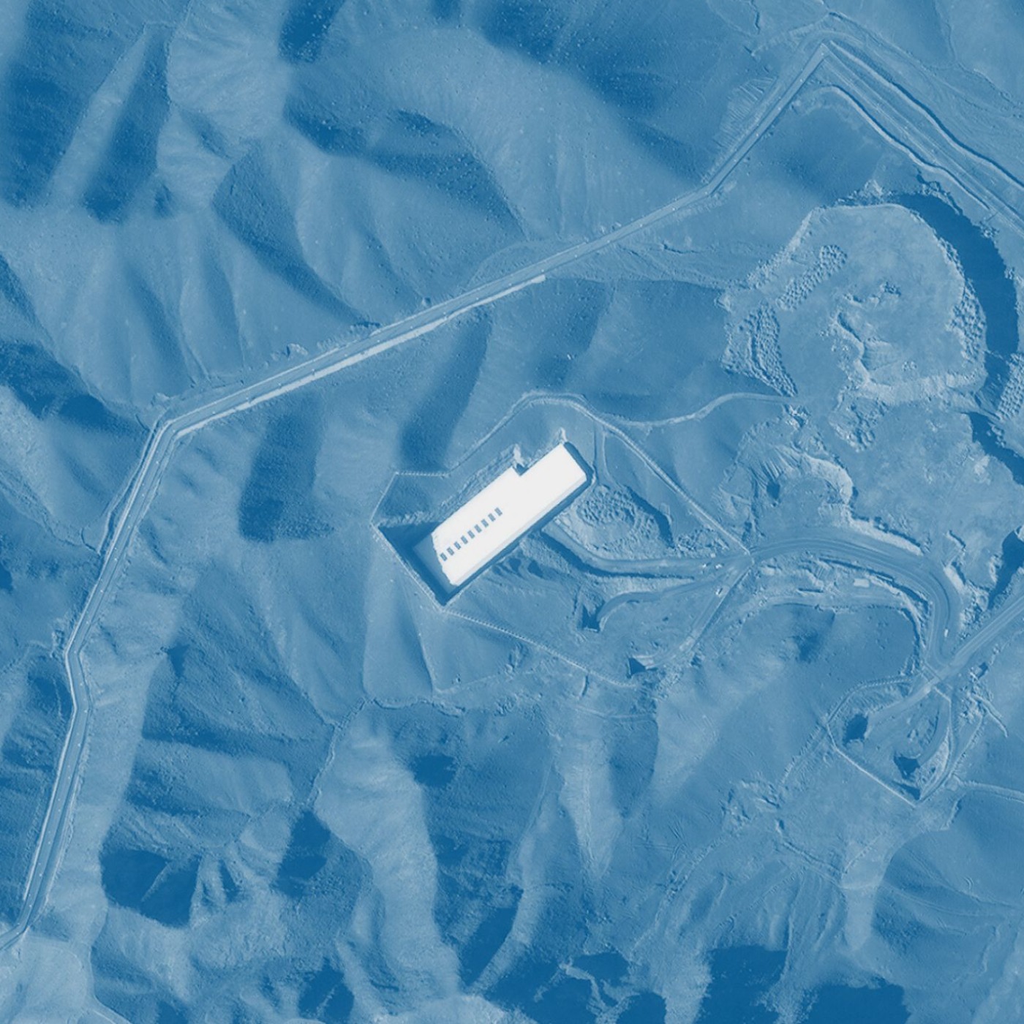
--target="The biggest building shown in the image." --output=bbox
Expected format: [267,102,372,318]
[414,442,587,593]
